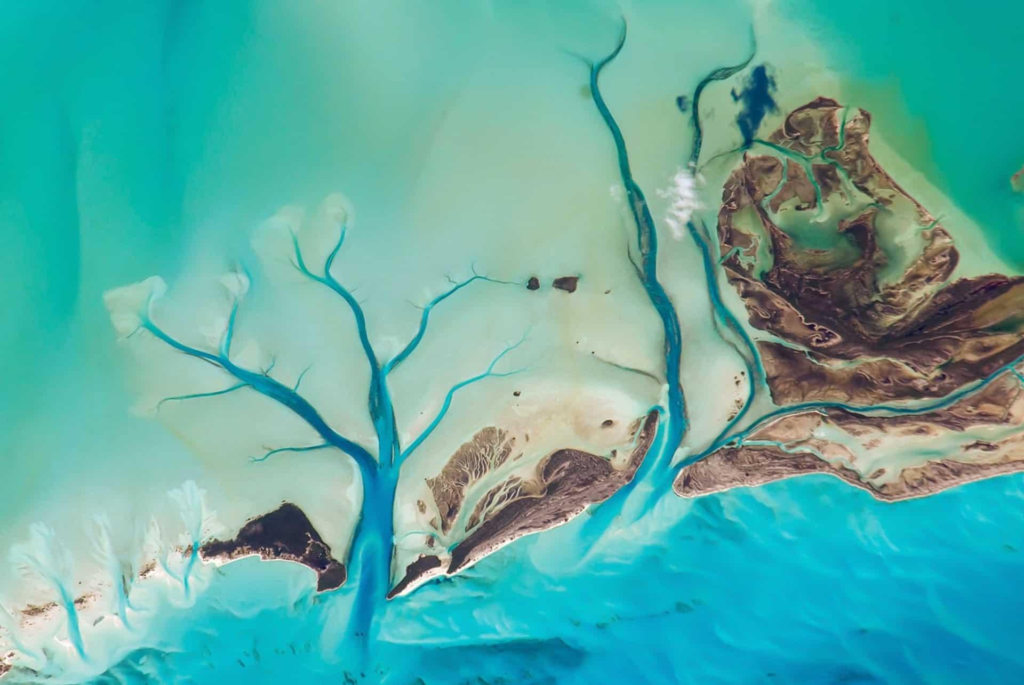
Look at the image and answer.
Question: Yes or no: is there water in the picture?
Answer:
Yes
